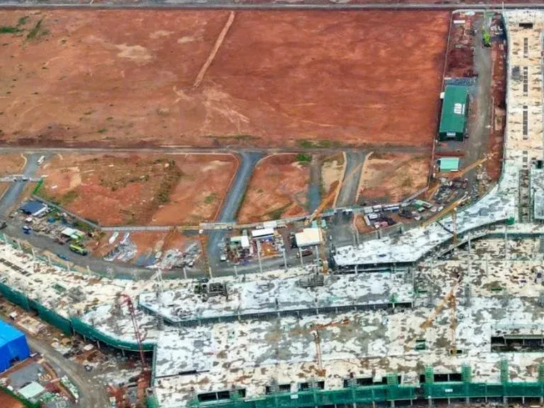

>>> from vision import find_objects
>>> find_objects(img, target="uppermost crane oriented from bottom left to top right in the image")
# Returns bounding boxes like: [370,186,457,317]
[425,153,494,207]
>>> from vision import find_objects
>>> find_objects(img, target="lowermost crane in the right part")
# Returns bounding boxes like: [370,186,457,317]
[309,317,349,374]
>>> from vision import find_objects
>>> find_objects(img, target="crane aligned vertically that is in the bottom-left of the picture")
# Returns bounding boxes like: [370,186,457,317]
[126,297,150,385]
